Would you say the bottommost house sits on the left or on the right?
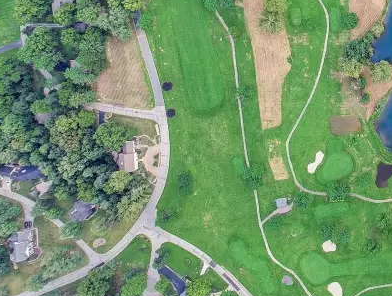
left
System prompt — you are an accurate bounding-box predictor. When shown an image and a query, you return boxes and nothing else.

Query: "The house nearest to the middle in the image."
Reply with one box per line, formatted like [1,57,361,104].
[111,141,138,171]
